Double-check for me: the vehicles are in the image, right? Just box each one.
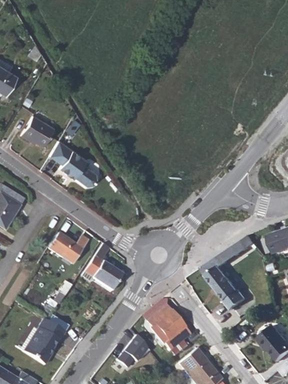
[242,359,252,370]
[222,312,232,322]
[62,220,71,232]
[216,307,227,316]
[193,197,202,208]
[222,364,232,374]
[238,331,248,341]
[16,251,24,262]
[49,216,58,229]
[52,165,60,174]
[68,329,78,341]
[144,281,152,292]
